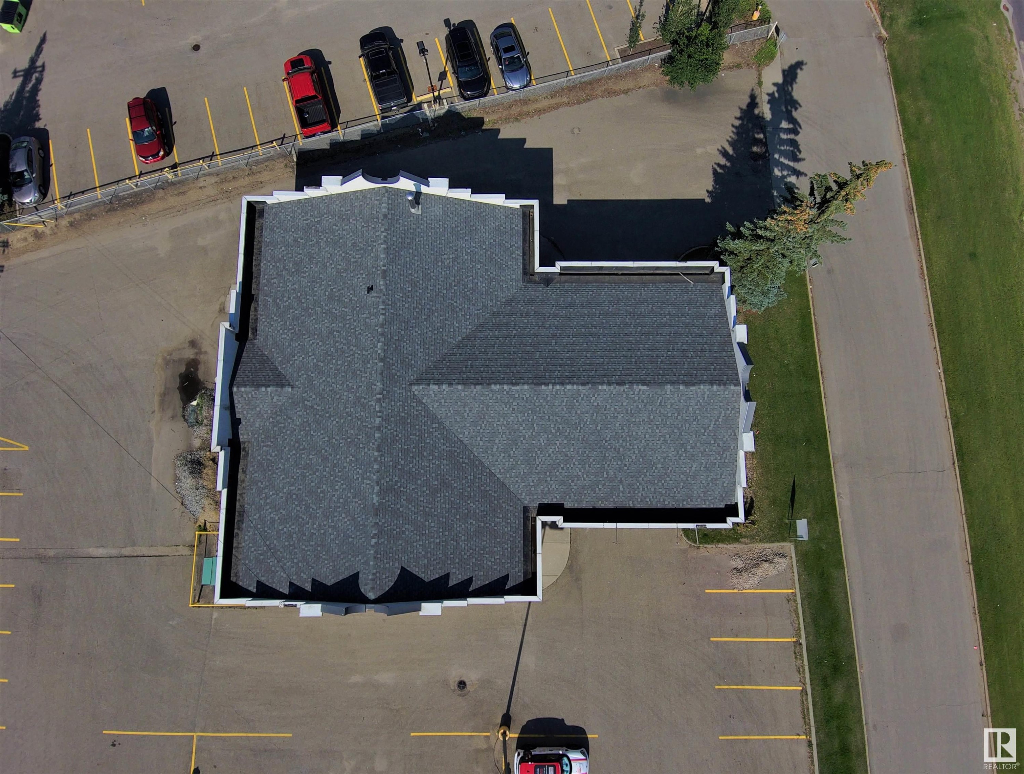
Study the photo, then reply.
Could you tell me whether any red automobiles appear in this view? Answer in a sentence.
Yes, there is a red automobile in the image.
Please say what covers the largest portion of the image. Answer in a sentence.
The largest share of the image is taken up by paved ground.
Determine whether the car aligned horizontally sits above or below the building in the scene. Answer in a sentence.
The car aligned horizontally appears below the building in the picture.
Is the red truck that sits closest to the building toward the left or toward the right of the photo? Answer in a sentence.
The red truck that sits closest to the building sits on the left side.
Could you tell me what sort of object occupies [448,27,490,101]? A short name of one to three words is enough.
car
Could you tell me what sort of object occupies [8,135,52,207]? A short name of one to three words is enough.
car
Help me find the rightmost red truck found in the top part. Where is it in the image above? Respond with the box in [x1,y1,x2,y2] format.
[276,54,327,140]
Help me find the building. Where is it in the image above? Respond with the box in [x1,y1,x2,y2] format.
[213,168,758,620]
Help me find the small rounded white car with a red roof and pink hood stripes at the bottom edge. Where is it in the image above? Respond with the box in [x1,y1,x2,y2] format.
[515,743,586,774]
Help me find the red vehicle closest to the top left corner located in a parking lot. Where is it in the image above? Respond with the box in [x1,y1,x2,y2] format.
[124,97,166,166]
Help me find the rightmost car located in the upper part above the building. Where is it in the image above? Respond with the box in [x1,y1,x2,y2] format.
[492,26,533,93]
